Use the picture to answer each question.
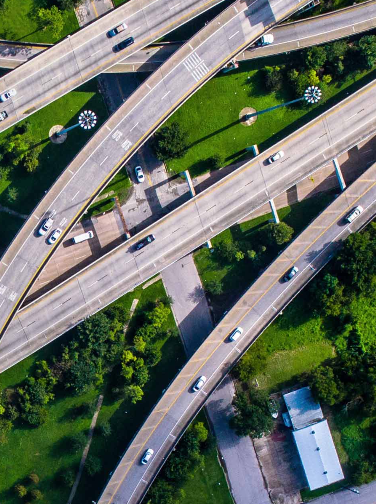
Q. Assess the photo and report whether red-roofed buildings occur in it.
No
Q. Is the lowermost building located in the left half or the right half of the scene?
right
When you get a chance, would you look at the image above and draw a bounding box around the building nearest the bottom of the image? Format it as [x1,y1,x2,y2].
[288,420,344,490]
